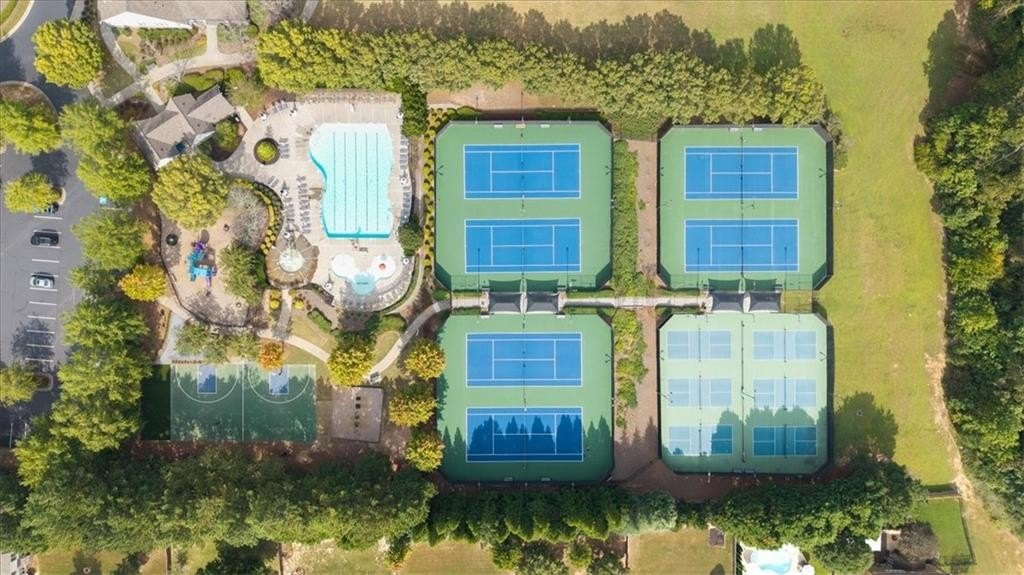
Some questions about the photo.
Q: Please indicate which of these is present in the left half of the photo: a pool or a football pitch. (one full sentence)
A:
Visible in the left half of the photo is a pool.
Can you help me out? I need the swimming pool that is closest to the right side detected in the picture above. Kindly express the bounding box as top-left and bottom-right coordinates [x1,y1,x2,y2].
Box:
[751,547,794,575]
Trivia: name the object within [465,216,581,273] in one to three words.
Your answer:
tennis court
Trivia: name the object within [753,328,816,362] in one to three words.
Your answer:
sports court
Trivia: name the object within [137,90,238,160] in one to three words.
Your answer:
building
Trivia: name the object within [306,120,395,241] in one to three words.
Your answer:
swimming pool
